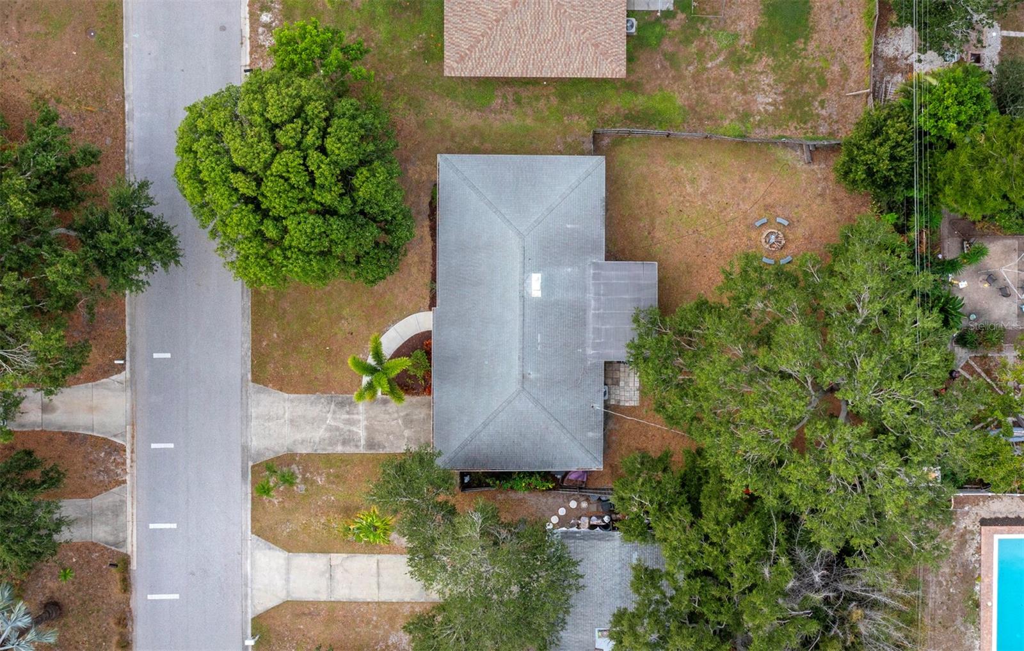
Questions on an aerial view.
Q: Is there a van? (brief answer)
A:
No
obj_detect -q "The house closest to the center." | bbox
[431,153,658,472]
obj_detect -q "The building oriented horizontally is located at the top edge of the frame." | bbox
[443,0,628,79]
